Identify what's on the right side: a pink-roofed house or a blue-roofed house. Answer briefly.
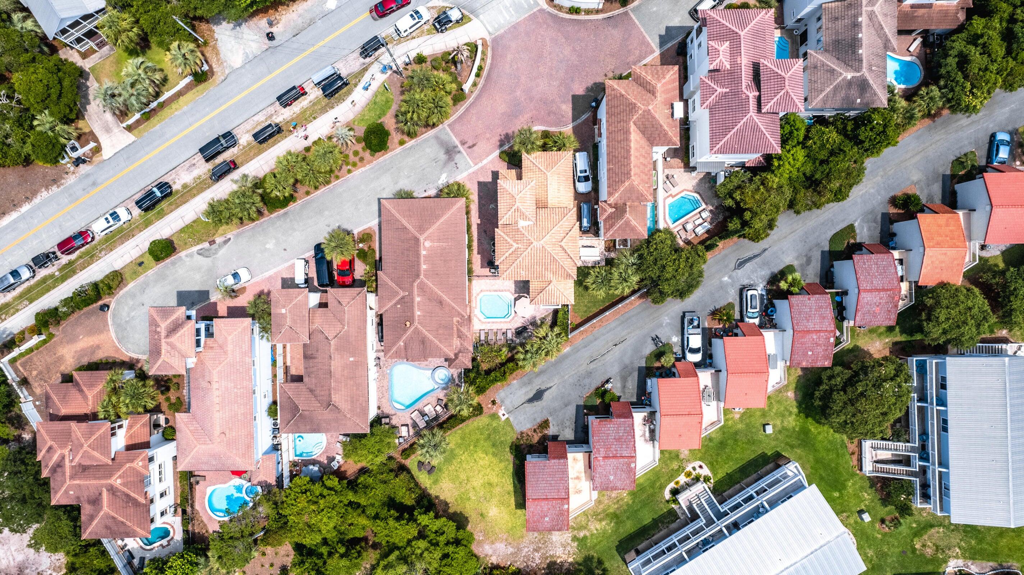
pink-roofed house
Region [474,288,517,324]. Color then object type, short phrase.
white swimming pool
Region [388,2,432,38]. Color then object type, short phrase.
white car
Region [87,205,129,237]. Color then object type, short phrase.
white car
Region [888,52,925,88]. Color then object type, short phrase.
blue swimming pool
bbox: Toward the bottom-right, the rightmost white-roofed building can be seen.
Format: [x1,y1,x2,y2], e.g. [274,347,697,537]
[859,353,1024,527]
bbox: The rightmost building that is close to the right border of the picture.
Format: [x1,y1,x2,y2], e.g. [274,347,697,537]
[956,164,1024,245]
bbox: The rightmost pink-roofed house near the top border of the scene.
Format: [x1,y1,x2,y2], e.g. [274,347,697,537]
[675,7,805,184]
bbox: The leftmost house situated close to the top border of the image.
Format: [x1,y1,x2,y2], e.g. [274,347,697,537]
[21,0,144,67]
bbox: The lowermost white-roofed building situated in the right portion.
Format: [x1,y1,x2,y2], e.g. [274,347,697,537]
[618,464,867,575]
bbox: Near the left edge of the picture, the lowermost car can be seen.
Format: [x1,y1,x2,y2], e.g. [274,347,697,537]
[0,267,34,300]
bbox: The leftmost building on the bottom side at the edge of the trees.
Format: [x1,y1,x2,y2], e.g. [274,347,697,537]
[35,371,176,539]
